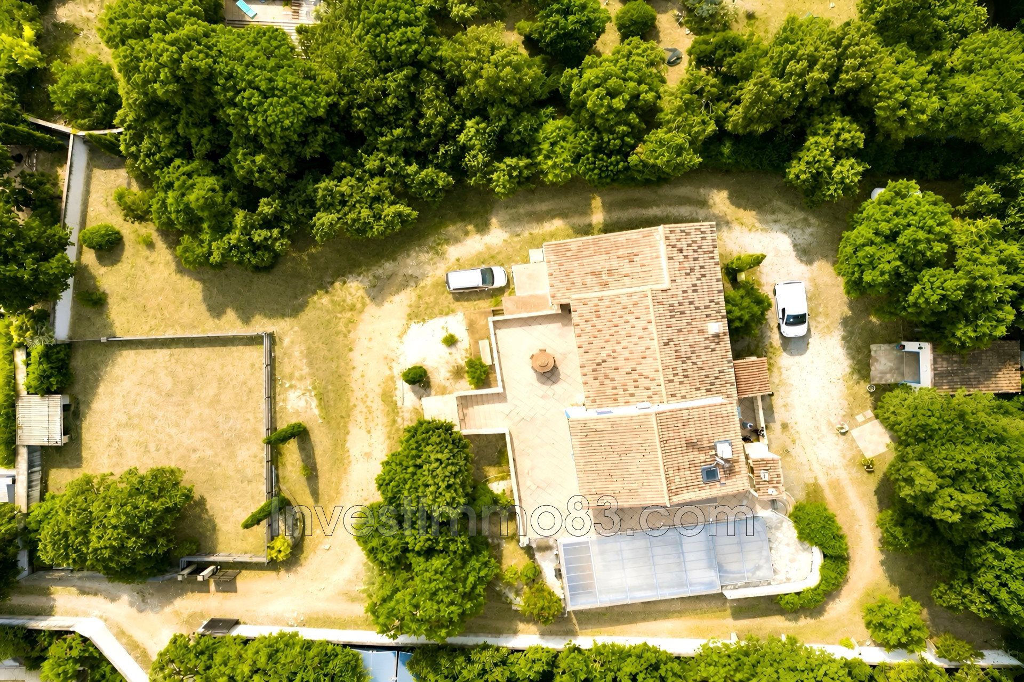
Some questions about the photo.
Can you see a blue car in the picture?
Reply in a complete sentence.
No, I can see no blue car in this picture.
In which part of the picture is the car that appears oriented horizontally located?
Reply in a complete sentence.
The car that appears oriented horizontally is in the center part of the image.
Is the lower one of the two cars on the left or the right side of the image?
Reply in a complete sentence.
The lower one of the two cars is on the right side of the image.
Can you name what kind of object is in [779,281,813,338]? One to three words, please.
car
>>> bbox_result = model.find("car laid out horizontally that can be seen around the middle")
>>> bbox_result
[445,262,508,294]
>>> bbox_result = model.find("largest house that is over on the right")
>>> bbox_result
[542,222,751,509]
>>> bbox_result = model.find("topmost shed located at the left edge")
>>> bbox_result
[15,394,83,446]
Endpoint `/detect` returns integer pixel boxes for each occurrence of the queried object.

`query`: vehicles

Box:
[779,281,813,338]
[445,262,508,294]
